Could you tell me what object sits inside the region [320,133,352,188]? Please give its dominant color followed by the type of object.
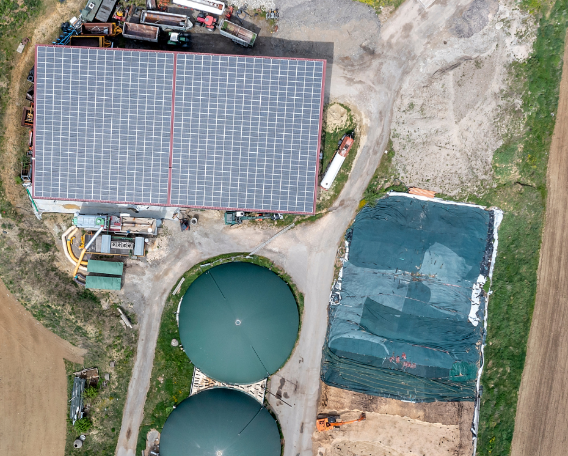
white trailer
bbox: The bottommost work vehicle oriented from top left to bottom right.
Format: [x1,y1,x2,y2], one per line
[173,213,191,233]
